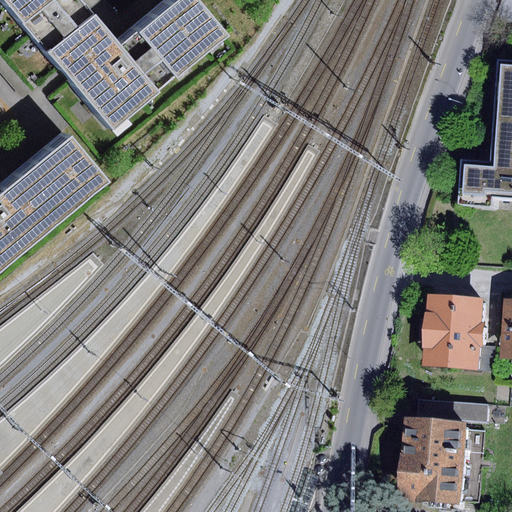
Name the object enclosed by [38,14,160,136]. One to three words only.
building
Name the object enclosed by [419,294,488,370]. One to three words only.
house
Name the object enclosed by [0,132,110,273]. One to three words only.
building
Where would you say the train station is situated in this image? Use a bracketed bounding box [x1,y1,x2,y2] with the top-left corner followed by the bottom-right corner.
[0,114,322,512]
